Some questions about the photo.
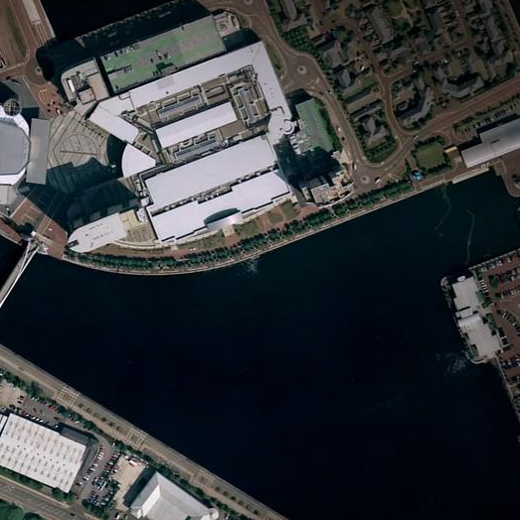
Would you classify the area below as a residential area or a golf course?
residential area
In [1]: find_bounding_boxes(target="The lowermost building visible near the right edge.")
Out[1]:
[449,275,503,365]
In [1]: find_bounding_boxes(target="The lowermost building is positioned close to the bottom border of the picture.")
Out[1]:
[130,471,219,520]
